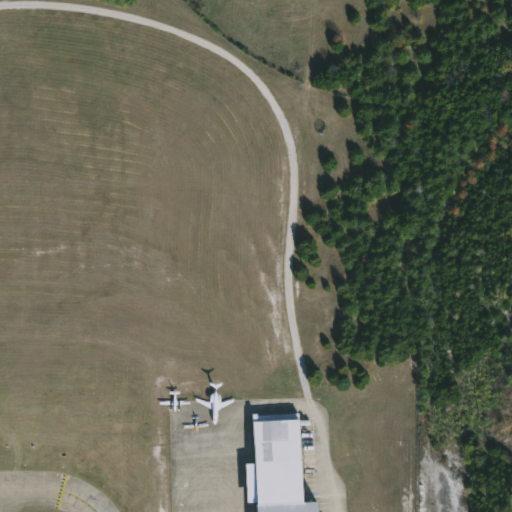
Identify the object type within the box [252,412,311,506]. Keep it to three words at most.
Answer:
hangar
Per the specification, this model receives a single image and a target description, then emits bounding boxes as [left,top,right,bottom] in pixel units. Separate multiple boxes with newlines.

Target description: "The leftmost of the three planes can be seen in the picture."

[160,392,190,412]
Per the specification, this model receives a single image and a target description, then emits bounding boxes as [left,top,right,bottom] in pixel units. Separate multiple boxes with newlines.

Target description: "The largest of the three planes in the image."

[196,384,236,425]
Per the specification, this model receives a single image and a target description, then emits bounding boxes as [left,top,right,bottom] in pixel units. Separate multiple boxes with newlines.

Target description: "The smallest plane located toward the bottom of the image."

[184,416,208,432]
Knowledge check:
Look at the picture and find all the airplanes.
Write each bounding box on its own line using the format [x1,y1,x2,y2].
[160,392,190,412]
[184,416,208,432]
[196,384,236,425]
